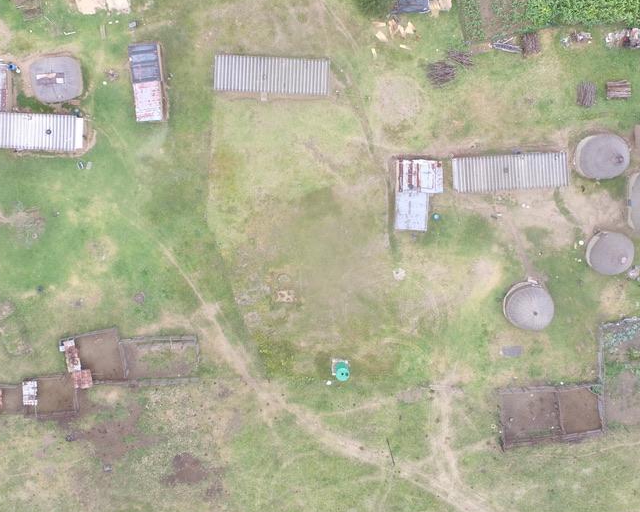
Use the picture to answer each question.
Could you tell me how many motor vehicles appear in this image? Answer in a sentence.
The picture shows no motor vehicles.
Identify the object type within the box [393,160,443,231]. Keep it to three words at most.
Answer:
house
